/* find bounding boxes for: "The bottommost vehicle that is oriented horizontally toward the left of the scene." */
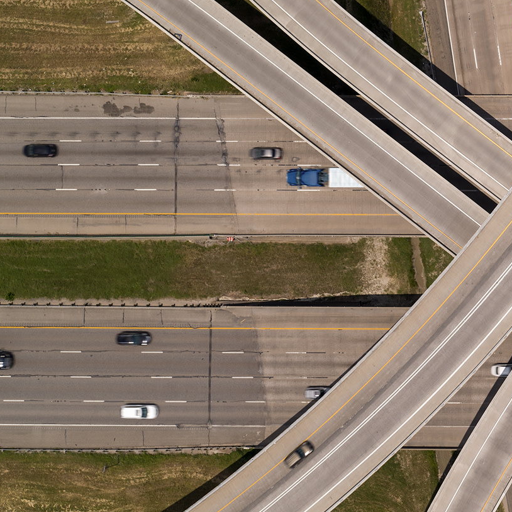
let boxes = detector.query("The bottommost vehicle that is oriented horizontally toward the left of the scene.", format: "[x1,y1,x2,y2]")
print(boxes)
[123,403,158,420]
